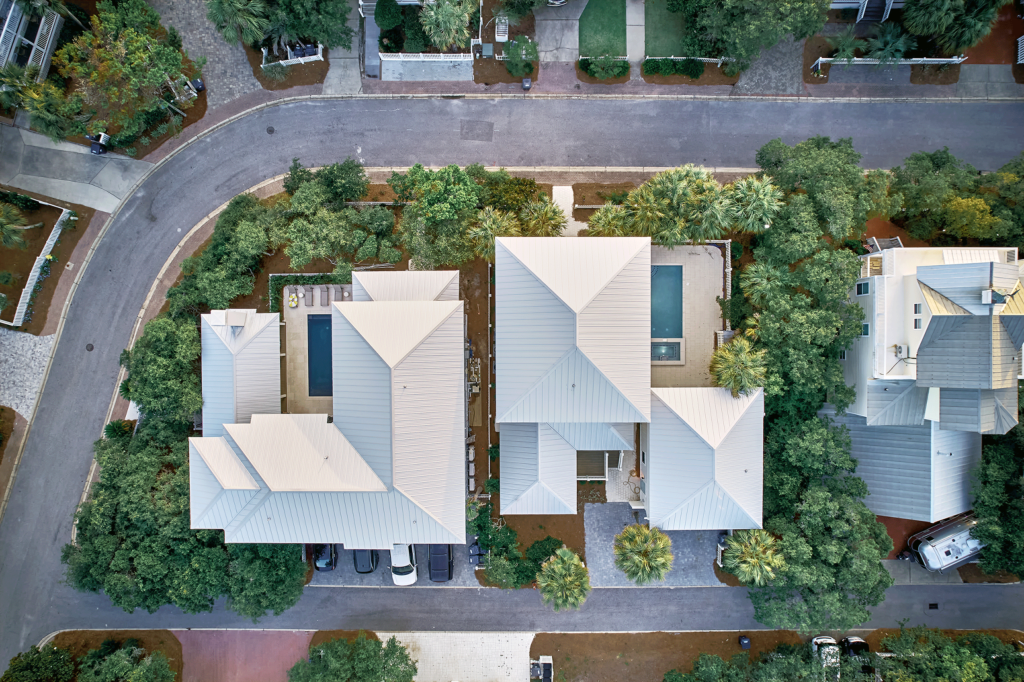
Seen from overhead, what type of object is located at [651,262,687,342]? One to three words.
swimming pool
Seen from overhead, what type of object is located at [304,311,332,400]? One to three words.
swimming pool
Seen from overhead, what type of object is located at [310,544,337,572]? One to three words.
car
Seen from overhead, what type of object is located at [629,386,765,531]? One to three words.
building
